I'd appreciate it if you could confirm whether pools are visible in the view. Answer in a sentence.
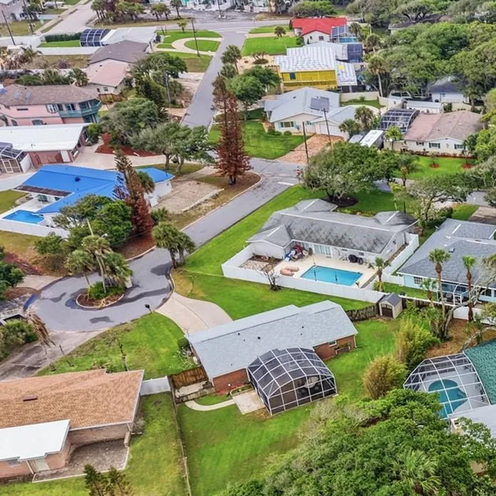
Yes, you can see a pool in this photo.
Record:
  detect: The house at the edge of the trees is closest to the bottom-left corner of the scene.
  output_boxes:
[0,371,140,477]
